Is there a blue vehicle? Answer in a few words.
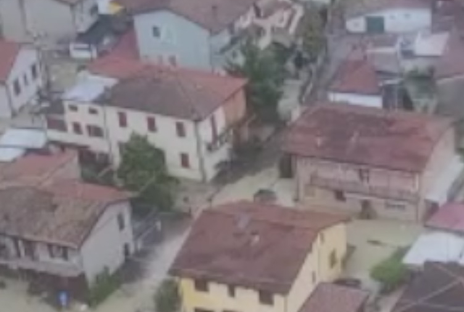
No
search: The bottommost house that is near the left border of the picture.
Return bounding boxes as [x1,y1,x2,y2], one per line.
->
[0,177,133,295]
